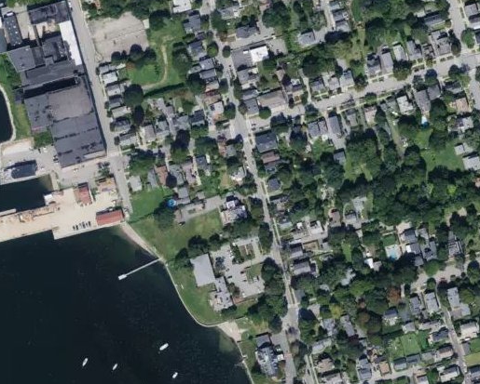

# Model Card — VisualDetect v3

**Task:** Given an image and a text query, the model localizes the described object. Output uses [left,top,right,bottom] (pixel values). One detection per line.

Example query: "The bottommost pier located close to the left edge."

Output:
[0,185,122,242]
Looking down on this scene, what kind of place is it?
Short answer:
residential area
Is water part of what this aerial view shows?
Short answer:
Yes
